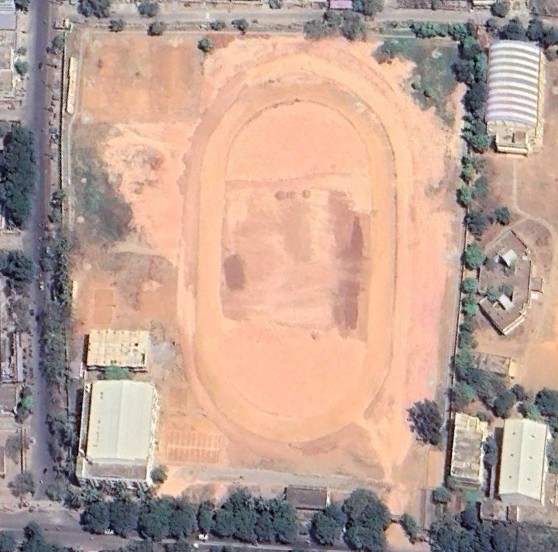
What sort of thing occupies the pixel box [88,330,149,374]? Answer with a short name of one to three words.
building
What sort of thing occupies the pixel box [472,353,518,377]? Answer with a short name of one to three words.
shed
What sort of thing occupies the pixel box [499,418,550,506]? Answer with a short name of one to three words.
building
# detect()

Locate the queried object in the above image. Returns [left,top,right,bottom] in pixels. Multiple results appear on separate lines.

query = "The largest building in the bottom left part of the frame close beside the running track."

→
[77,379,160,492]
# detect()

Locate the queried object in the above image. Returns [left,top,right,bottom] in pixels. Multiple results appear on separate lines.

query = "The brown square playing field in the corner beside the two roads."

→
[82,37,203,122]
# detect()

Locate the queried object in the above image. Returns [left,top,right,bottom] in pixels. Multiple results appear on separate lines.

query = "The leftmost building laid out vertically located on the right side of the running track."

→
[451,413,488,493]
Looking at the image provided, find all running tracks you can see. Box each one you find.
[198,75,396,440]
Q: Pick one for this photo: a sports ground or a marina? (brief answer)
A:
sports ground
